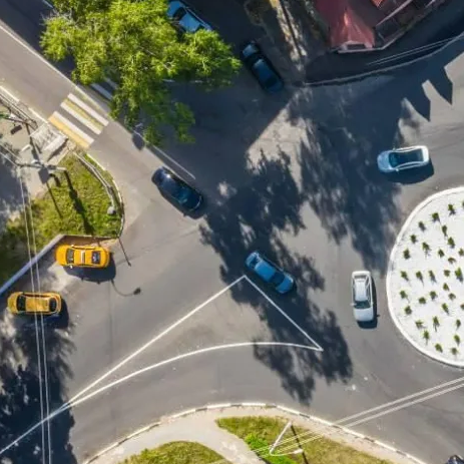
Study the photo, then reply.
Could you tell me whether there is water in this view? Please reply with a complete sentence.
No, there is no water in the image.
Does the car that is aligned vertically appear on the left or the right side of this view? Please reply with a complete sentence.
It is on the right.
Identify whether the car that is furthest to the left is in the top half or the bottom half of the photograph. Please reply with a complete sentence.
You can find the car that is furthest to the left in the bottom half.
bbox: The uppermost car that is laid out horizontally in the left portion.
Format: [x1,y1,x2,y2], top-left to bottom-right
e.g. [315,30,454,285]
[57,244,113,269]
